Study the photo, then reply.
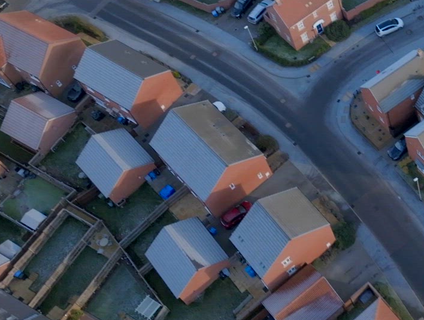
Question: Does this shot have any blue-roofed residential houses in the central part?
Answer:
Yes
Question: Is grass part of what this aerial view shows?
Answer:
Yes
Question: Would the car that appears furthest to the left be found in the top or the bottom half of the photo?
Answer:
top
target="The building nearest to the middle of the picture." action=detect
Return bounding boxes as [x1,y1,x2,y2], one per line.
[149,101,271,219]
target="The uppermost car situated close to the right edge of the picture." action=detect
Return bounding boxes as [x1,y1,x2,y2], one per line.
[374,16,405,36]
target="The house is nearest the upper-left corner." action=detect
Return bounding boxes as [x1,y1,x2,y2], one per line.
[0,9,85,96]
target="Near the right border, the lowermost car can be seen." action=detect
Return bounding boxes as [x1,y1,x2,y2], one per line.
[384,135,409,163]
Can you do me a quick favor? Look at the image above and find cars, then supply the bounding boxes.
[247,0,274,23]
[374,16,405,36]
[231,0,256,17]
[64,79,85,105]
[221,200,251,229]
[384,135,409,163]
